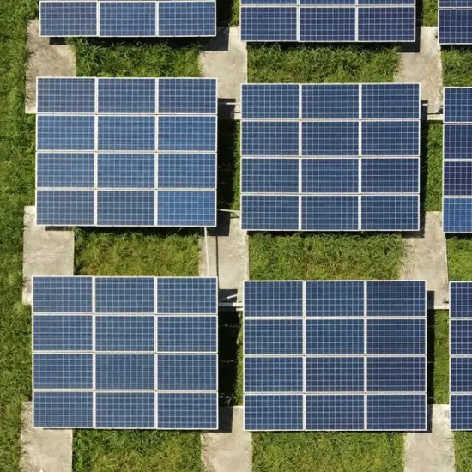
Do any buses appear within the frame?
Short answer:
No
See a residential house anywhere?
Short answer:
No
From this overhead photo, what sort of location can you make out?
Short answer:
solar farm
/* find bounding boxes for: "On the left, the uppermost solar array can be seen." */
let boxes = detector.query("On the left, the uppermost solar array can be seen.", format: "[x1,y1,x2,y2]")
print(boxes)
[39,0,217,37]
